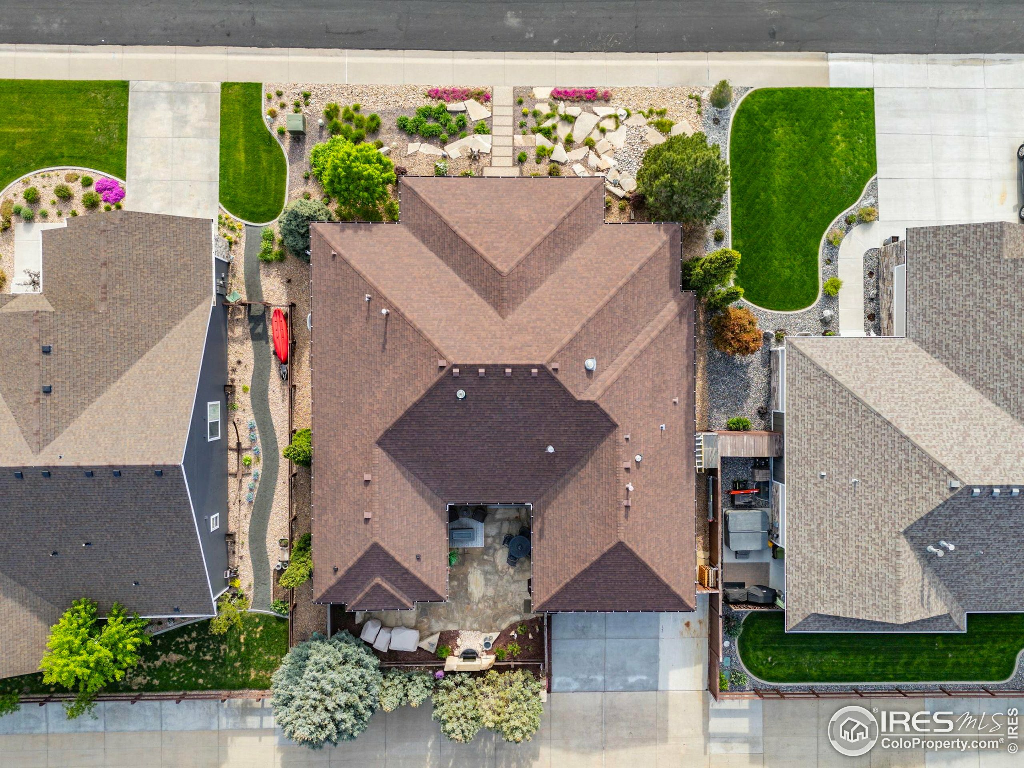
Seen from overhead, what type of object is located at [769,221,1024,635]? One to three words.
house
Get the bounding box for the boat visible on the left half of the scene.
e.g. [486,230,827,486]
[272,309,288,363]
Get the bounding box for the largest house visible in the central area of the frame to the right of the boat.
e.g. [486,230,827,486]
[305,173,699,615]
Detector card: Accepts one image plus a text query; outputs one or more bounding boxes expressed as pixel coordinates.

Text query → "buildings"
[769,221,1024,635]
[0,211,241,675]
[305,173,699,615]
